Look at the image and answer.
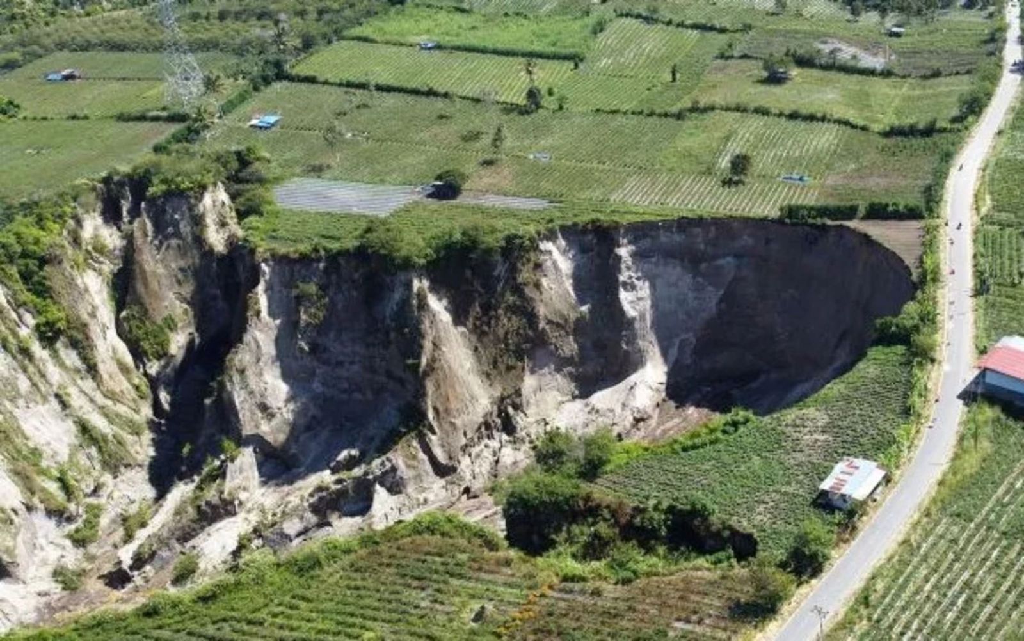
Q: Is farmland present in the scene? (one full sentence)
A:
Yes, farmland shows up in the scene.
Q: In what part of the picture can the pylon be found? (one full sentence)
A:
You can find the pylon in the top left area of the picture.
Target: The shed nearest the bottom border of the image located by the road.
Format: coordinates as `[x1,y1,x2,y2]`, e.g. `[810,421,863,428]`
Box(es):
[819,459,884,517]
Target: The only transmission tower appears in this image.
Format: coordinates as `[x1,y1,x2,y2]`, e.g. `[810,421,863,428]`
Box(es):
[161,0,210,108]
